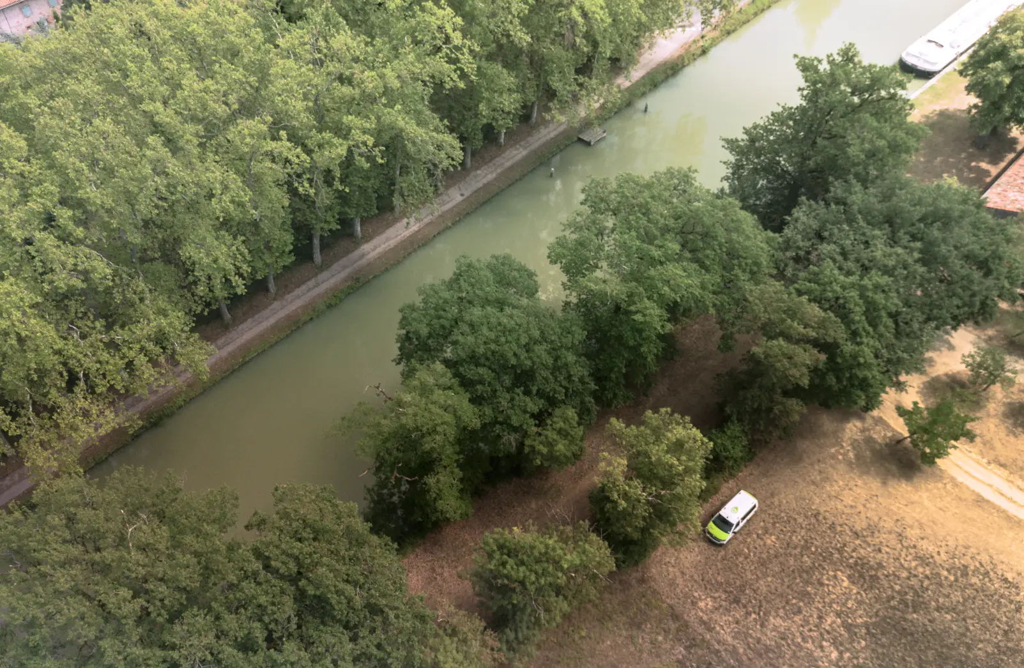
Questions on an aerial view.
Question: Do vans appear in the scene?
Yes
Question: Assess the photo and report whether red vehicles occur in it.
No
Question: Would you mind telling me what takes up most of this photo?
trees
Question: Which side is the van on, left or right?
right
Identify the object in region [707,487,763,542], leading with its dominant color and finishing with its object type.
white van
